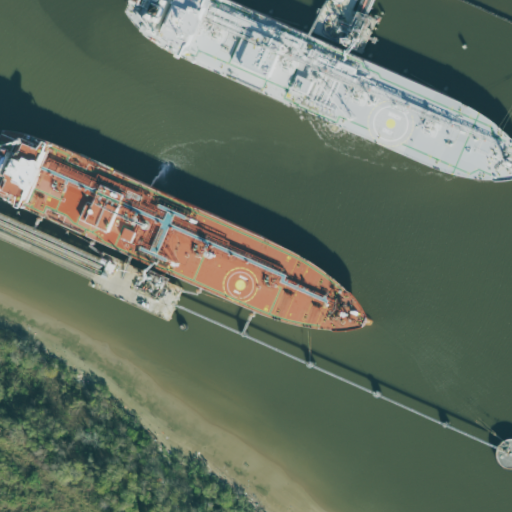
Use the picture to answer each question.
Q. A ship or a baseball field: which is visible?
ship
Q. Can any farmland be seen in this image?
No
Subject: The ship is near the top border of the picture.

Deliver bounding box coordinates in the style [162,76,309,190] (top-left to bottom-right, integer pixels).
[120,0,512,182]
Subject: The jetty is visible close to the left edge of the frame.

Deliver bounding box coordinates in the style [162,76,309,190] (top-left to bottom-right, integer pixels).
[0,213,183,320]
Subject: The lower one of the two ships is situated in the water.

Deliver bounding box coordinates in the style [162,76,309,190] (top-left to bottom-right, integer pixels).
[0,130,374,331]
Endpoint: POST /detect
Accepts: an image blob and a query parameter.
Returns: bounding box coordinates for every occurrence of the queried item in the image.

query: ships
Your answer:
[0,130,374,331]
[120,0,512,182]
